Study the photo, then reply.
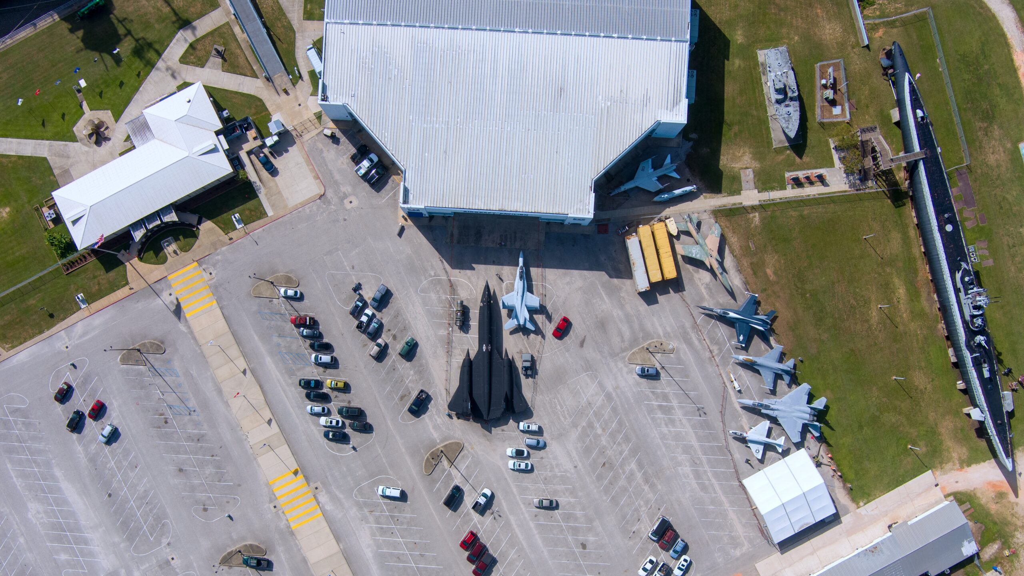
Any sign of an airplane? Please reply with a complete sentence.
Yes, there's an airplane here.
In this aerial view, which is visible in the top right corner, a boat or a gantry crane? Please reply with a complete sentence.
The feature located in the top right corner is a boat.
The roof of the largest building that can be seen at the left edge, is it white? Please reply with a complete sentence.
Yes, the roof of the largest building that can be seen at the left edge is white.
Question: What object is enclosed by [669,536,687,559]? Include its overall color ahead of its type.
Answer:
blue car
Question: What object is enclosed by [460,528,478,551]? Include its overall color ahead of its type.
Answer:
red car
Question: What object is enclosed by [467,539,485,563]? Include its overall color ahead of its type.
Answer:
red car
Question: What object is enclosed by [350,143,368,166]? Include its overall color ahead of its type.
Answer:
black car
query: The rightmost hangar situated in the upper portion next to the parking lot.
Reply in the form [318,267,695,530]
[318,0,693,227]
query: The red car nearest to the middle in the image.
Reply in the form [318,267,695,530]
[553,316,570,338]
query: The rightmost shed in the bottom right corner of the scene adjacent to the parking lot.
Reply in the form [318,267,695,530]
[801,498,979,576]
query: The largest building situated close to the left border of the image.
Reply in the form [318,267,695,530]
[51,81,235,259]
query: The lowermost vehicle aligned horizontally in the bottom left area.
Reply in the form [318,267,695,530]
[243,556,272,569]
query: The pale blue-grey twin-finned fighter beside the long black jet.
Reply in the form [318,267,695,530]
[501,250,540,330]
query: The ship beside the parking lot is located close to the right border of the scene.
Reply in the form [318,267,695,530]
[880,39,1024,472]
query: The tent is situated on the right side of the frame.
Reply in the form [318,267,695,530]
[737,446,837,544]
